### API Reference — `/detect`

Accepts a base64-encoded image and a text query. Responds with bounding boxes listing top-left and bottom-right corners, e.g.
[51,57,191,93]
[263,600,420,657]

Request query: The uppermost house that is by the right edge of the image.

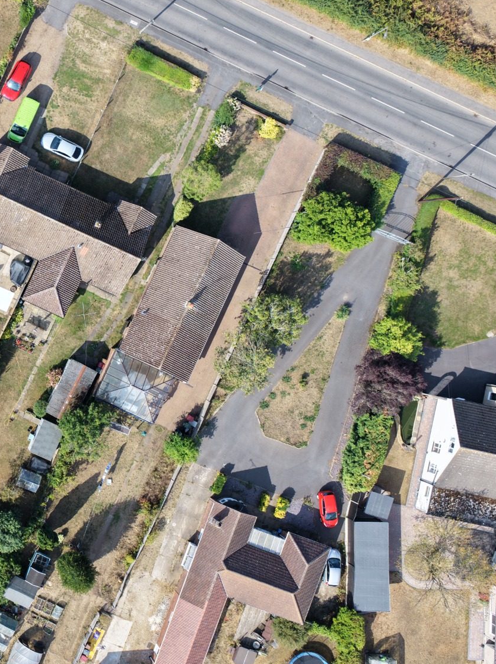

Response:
[419,396,496,498]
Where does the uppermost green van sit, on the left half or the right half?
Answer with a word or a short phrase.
left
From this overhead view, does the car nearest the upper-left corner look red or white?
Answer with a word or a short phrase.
red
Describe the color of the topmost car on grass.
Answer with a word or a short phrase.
white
